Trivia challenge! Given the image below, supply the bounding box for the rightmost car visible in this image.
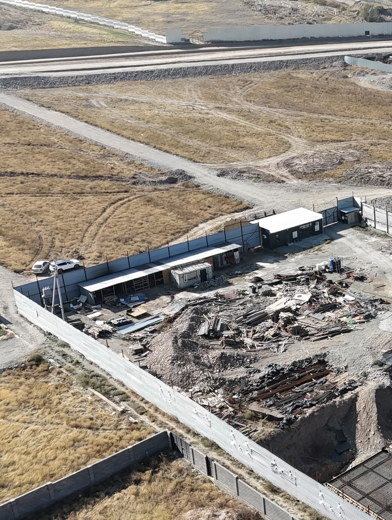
[53,259,81,273]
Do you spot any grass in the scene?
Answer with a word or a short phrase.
Yes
